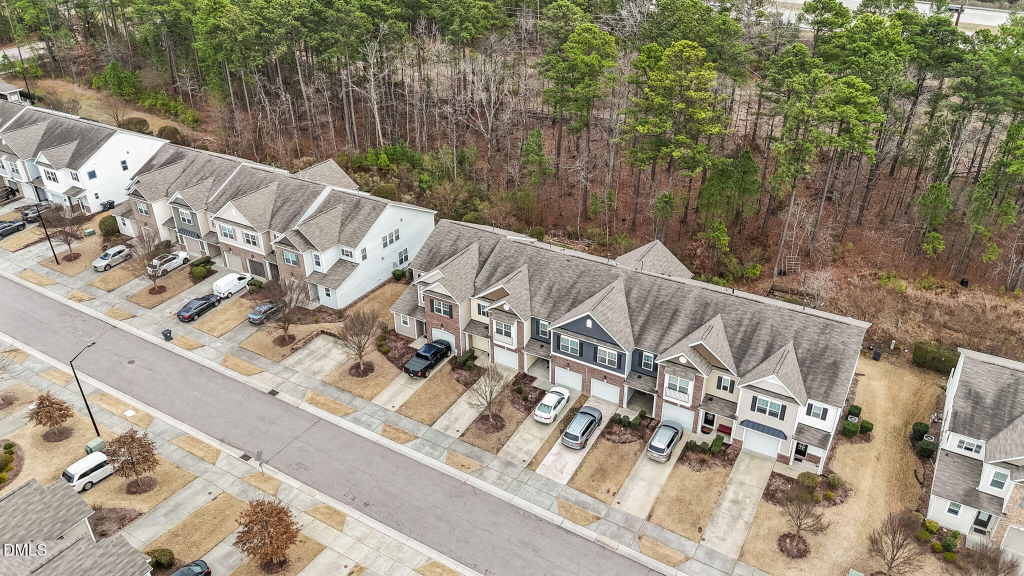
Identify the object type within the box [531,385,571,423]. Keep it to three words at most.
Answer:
car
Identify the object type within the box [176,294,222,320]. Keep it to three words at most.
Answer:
car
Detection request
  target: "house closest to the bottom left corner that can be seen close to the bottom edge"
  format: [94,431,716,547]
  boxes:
[0,478,152,576]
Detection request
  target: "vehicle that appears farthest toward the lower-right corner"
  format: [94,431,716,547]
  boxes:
[647,417,686,462]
